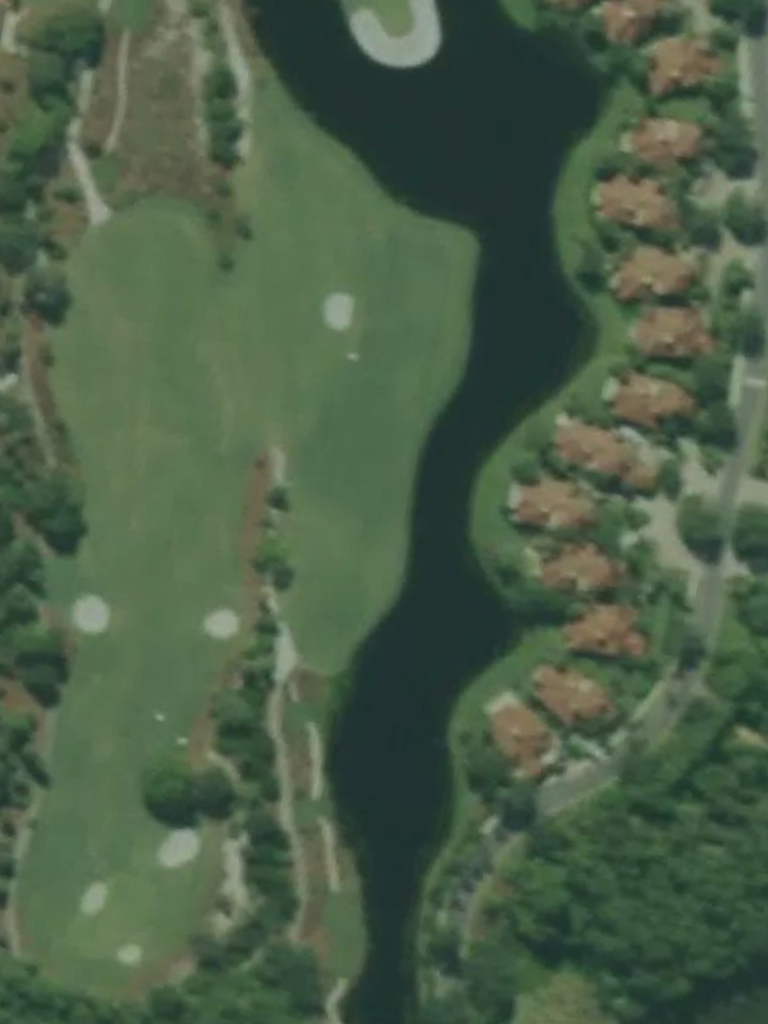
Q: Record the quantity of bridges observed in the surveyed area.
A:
none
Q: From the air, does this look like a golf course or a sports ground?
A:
golf course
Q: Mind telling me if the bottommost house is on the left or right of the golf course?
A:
to its right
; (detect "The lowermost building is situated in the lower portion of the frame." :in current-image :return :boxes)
[486,694,561,778]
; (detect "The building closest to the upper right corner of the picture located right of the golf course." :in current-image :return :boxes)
[645,32,723,92]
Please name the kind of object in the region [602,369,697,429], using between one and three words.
house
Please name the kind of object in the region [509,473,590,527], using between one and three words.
house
